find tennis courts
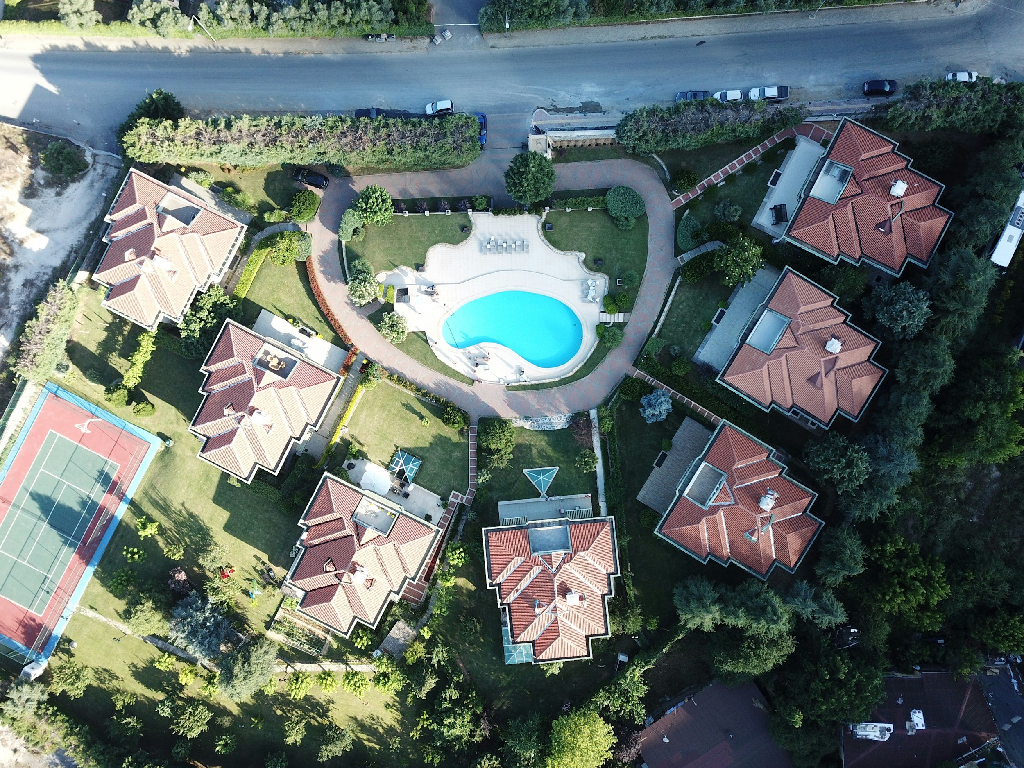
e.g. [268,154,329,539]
[0,380,162,660]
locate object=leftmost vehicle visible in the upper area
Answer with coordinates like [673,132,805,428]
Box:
[294,166,329,192]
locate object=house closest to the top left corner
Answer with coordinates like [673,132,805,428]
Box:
[94,168,250,332]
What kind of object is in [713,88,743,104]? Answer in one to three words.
car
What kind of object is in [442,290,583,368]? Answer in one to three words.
swimming pool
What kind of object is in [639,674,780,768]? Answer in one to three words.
shed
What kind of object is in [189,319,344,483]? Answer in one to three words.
house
